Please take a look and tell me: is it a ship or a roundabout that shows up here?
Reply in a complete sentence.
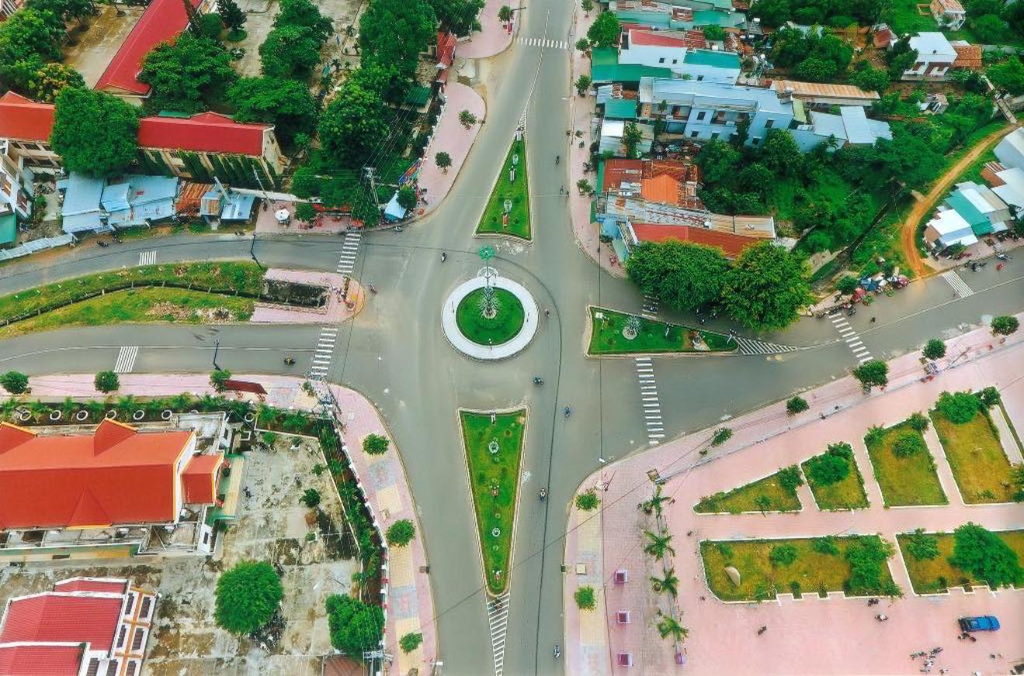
Looking from above, you can make out a roundabout.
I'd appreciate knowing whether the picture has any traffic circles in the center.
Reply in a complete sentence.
Yes, in the center there is a traffic circle.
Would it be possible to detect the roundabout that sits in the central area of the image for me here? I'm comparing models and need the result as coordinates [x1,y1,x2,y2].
[441,276,540,360]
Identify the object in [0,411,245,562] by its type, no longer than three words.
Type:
building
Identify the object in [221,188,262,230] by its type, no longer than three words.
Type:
shed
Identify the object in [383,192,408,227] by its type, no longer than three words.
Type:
tent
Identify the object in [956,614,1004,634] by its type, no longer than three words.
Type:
vehicle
